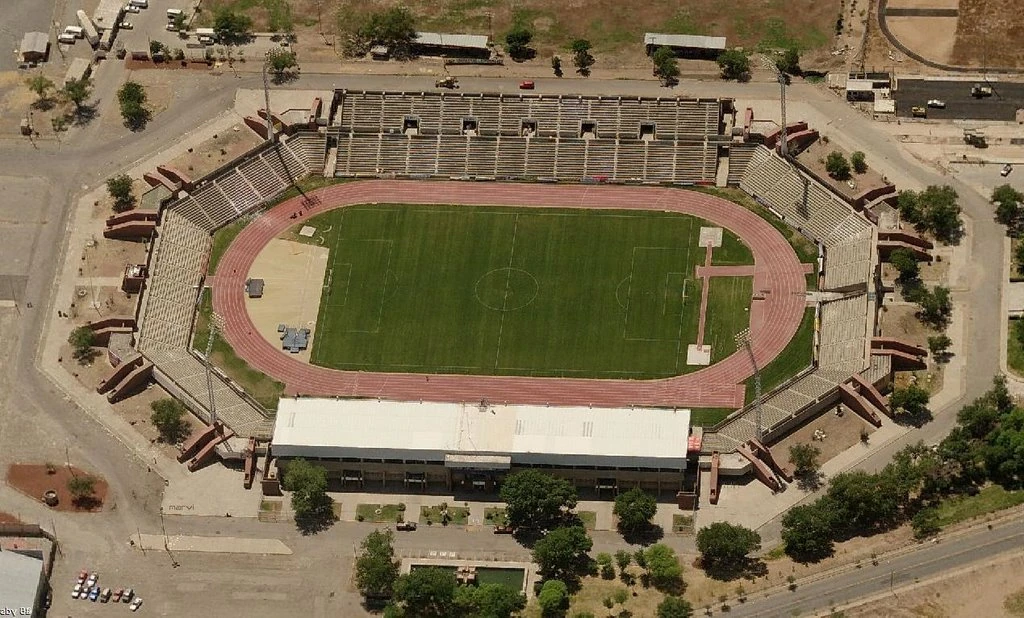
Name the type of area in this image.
sports ground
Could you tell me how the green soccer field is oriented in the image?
horizontally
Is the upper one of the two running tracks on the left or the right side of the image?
right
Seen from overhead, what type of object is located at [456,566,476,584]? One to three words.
fountain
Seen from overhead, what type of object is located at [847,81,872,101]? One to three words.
building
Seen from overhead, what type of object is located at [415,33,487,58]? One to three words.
shed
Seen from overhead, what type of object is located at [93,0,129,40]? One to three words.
building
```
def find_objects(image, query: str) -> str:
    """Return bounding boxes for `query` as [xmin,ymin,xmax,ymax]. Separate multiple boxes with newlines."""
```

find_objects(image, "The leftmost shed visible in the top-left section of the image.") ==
[21,32,49,62]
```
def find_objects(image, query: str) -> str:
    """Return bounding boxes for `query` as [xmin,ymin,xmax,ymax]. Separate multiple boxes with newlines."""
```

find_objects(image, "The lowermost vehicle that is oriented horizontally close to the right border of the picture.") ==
[963,132,988,144]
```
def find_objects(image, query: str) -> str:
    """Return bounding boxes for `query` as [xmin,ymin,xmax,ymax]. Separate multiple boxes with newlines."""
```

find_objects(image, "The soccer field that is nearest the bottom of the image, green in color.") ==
[309,205,698,377]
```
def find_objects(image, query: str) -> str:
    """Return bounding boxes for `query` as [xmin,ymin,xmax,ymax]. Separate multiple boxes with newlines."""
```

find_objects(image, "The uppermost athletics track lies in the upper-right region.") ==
[877,0,1024,73]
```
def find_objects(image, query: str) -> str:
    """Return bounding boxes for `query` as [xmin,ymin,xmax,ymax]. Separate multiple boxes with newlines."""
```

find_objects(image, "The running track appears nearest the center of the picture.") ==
[204,180,815,407]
